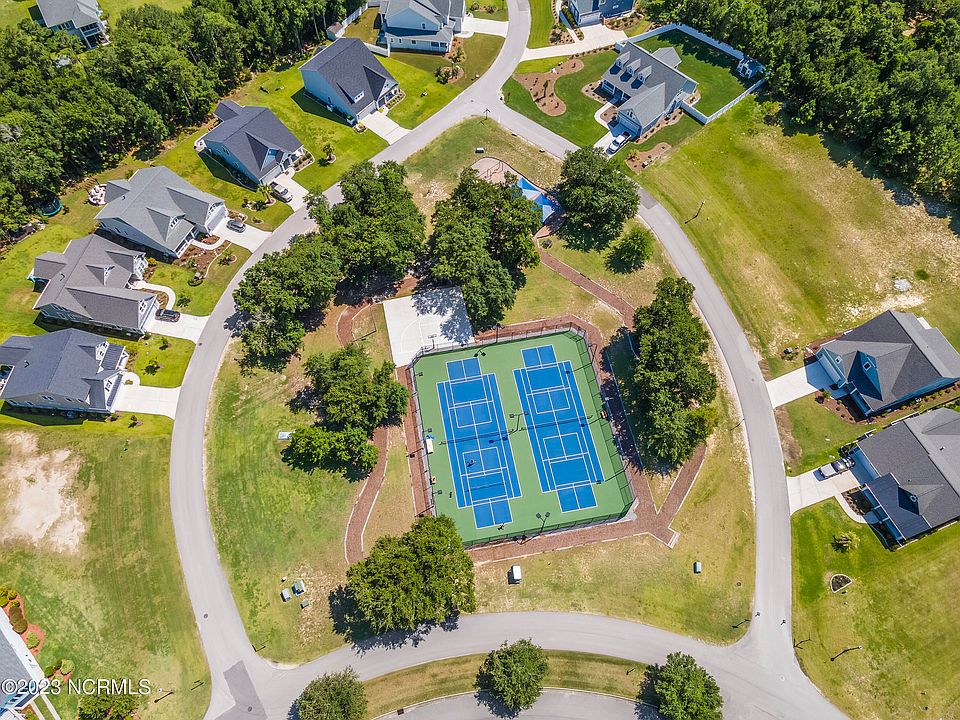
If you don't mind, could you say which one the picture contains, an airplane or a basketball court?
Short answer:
basketball court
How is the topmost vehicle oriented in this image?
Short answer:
on a diagonal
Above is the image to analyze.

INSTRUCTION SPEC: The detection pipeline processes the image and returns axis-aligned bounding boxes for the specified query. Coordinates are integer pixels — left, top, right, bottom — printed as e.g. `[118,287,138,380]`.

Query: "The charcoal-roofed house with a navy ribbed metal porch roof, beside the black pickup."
[851,400,960,545]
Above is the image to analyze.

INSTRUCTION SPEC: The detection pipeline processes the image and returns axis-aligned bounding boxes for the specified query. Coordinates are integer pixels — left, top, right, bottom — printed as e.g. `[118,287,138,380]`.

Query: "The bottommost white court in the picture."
[383,287,474,365]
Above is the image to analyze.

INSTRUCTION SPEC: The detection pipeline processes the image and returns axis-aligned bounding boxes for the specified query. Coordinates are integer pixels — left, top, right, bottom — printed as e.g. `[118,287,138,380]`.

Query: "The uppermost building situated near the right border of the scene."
[816,309,960,416]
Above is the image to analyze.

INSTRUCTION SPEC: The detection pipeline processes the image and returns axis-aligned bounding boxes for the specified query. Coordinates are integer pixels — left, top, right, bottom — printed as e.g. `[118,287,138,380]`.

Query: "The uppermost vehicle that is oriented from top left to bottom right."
[269,179,292,198]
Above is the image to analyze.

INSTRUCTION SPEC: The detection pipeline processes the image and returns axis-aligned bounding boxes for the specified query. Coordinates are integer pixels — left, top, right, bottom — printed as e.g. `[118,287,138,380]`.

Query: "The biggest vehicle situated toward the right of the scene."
[820,458,855,476]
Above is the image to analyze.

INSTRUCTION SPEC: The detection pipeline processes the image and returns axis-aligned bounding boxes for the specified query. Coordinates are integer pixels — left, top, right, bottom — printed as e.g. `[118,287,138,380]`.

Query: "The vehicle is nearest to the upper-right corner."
[609,134,630,154]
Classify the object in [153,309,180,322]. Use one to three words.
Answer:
vehicle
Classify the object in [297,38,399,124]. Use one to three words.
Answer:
house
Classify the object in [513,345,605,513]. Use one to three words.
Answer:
tennis court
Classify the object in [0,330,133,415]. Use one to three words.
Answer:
house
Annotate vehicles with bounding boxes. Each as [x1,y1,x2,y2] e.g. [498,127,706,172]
[153,309,180,322]
[269,179,292,198]
[820,458,855,476]
[224,217,247,232]
[609,134,630,154]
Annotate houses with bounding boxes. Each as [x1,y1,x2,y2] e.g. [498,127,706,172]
[201,100,303,185]
[602,41,702,138]
[0,608,55,720]
[297,38,399,124]
[851,400,960,545]
[0,330,133,415]
[30,233,160,336]
[562,0,638,28]
[93,166,228,256]
[816,309,960,416]
[382,0,462,52]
